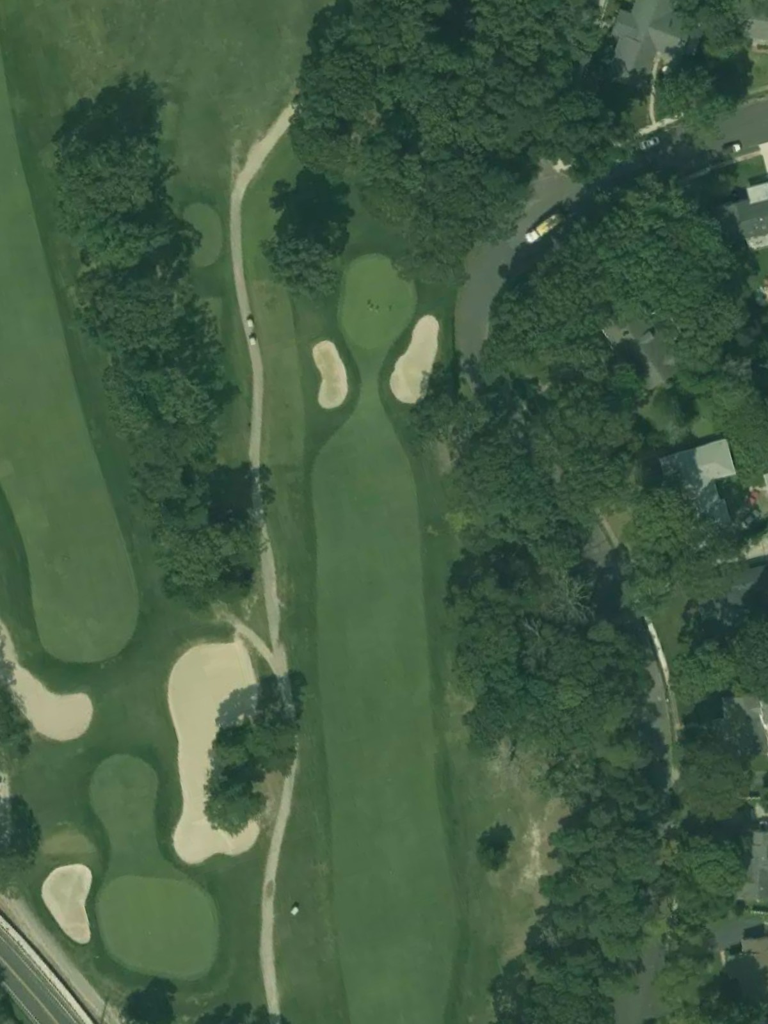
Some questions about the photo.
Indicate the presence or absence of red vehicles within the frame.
No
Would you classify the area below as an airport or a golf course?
golf course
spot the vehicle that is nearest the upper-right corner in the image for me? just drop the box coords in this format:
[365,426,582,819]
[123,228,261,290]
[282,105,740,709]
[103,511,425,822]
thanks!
[724,141,743,154]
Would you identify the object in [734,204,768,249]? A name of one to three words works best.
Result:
house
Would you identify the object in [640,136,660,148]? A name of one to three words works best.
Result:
vehicle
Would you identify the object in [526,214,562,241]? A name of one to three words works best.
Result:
truck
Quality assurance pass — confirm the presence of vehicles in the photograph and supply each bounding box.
[247,319,254,329]
[291,904,299,914]
[640,136,660,148]
[250,336,257,347]
[724,141,743,154]
[526,214,562,241]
